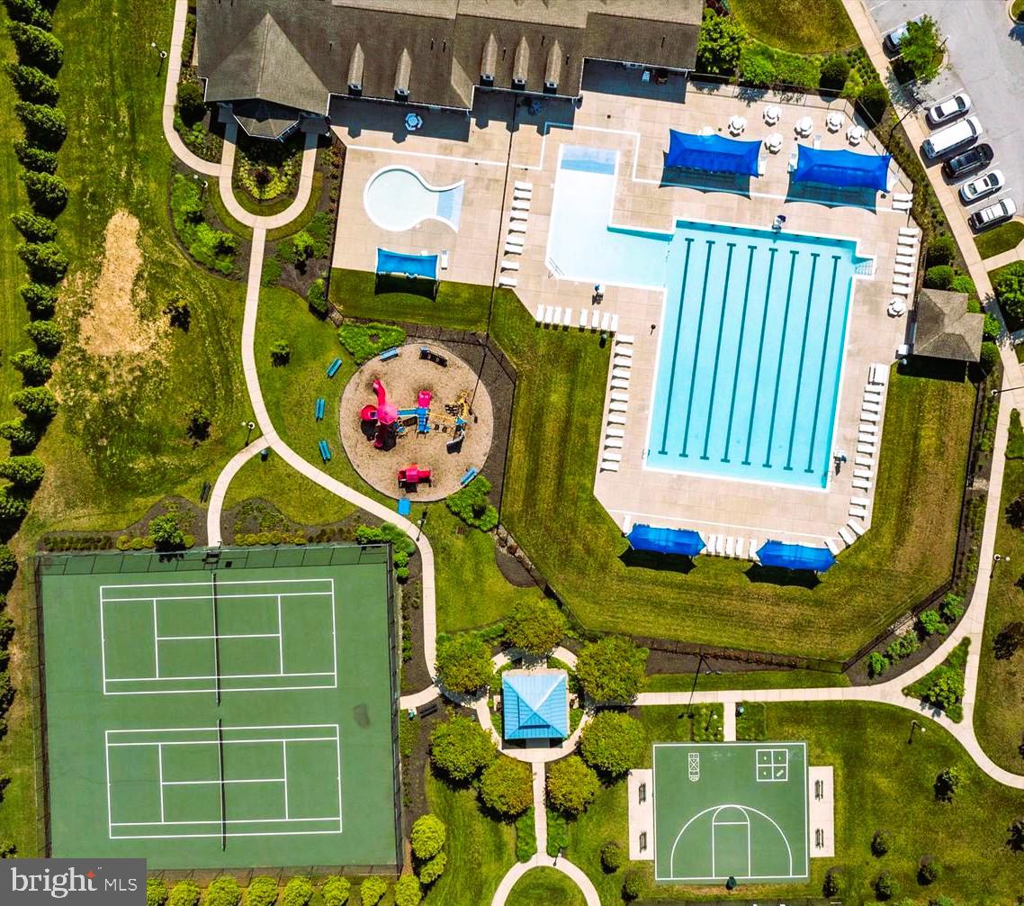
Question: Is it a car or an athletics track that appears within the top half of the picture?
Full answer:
What appears within the top half of the picture is a car.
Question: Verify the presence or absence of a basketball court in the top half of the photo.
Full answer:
No, no basketball court can be made out in the top half of the photo.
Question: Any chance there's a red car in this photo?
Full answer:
No, I can see no red car in this picture.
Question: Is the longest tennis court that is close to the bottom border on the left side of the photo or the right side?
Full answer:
You can find the longest tennis court that is close to the bottom border on the left side of the picture.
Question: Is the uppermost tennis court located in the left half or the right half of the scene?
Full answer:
The uppermost tennis court sits on the left side.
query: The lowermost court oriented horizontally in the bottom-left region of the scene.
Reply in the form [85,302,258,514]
[45,704,398,871]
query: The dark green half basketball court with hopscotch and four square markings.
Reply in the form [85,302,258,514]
[652,740,810,884]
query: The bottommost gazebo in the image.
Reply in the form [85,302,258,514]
[502,672,569,739]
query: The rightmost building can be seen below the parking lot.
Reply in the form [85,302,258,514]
[911,288,986,362]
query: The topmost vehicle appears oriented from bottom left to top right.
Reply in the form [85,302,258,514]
[874,21,918,55]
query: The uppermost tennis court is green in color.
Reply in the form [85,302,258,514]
[38,544,395,711]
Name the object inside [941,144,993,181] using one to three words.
car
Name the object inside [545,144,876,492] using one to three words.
swimming pool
